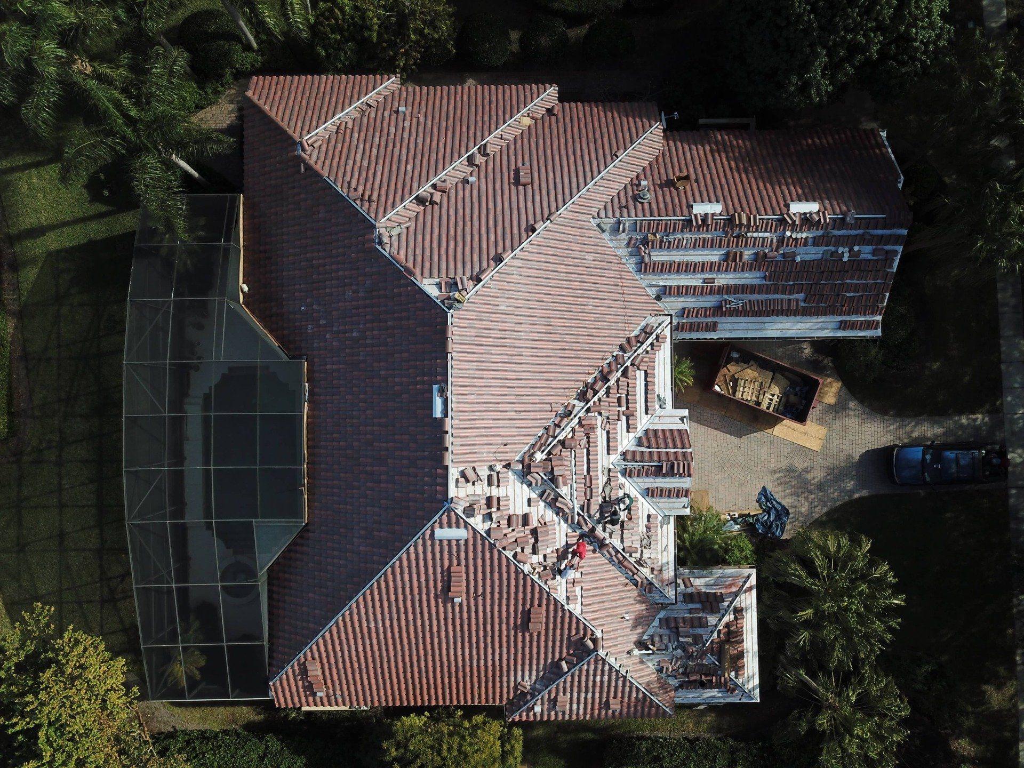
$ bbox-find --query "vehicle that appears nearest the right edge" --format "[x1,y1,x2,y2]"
[884,439,1010,490]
